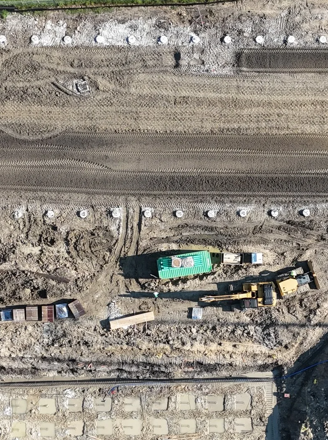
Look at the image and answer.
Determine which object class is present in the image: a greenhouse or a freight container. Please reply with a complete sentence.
There is a freight container in the scene.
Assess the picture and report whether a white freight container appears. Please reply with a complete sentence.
No, the photo shows no white freight container.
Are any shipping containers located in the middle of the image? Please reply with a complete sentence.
Yes, a shipping container can be seen in the middle of the image.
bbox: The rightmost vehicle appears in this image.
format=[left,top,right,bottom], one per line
[275,260,322,299]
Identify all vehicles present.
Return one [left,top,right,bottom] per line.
[201,281,276,308]
[275,260,322,299]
